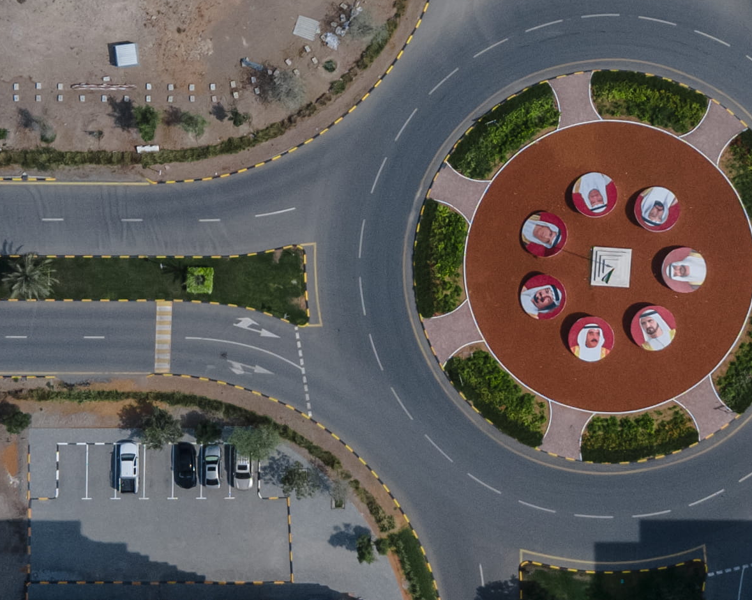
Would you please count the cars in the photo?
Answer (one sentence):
There are 4 cars in the image.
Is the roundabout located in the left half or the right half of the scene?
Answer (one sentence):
The roundabout appears in the right half of the scene.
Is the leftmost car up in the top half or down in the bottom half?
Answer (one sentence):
The leftmost car sits in the bottom half of the picture.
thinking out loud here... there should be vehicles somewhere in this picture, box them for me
[231,442,254,491]
[116,440,140,493]
[172,441,198,490]
[201,443,223,490]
